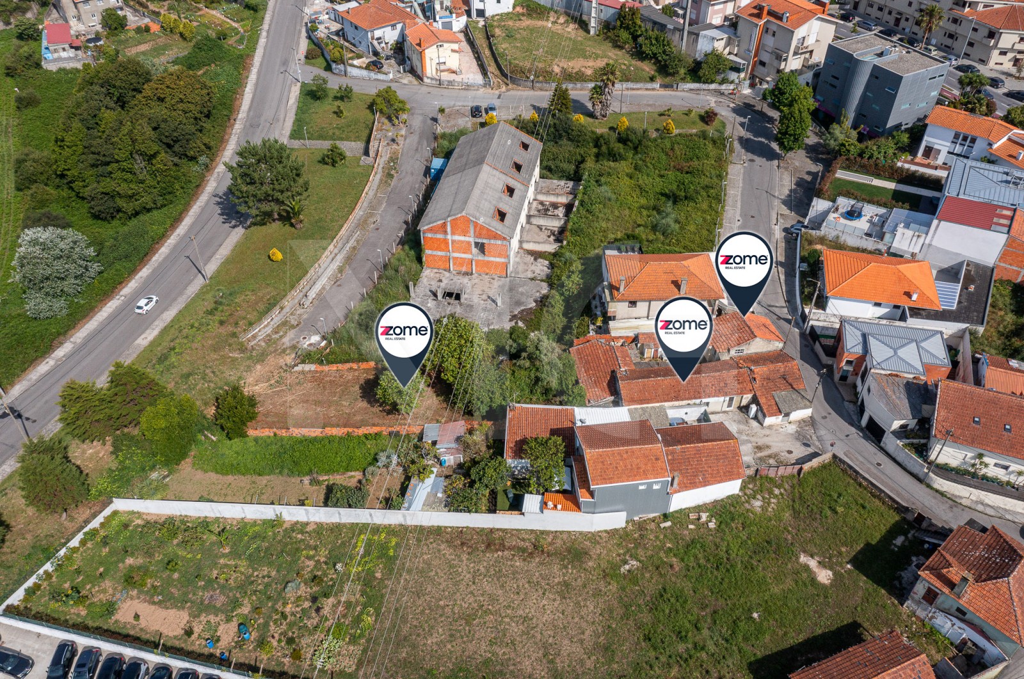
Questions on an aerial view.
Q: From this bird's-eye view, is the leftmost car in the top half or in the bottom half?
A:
bottom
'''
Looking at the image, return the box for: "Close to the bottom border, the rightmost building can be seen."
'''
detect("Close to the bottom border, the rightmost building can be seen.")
[904,522,1024,675]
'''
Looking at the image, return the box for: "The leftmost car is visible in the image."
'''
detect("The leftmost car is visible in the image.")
[0,644,30,675]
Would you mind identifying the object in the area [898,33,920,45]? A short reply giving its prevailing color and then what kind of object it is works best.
black vehicle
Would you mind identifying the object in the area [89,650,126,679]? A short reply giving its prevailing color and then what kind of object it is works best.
black car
